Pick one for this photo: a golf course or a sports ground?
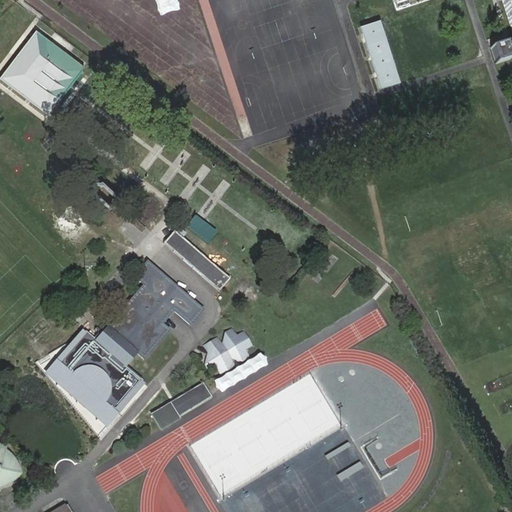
sports ground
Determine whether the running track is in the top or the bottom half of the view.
bottom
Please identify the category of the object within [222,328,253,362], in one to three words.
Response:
house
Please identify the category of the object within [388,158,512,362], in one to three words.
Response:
sports field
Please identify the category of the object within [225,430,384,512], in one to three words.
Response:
basketball court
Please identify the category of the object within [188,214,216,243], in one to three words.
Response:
shed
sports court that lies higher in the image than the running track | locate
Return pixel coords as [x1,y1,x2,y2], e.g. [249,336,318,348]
[212,0,364,136]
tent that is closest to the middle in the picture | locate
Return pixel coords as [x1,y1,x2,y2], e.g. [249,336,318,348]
[215,356,264,394]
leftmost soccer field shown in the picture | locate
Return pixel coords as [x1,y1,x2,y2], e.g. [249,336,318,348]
[0,200,66,337]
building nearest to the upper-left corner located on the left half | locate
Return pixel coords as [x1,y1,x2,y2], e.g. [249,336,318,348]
[0,30,82,114]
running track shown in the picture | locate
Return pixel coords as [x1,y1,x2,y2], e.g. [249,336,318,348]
[97,308,438,512]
